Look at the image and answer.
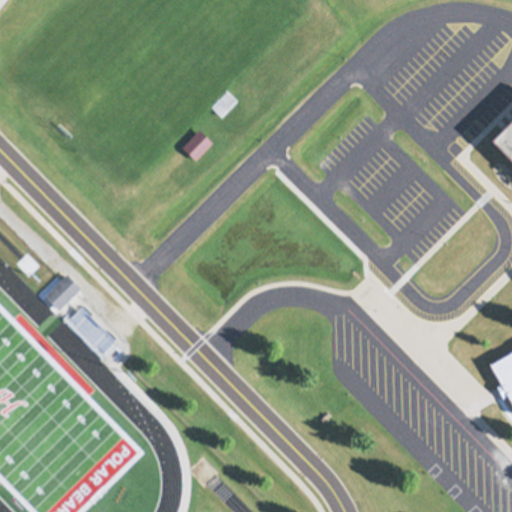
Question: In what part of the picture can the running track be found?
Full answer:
Look in the bottom left portion of the view to spot the running track.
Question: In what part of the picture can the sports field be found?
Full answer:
The sports field sits in the bottom left section of the image.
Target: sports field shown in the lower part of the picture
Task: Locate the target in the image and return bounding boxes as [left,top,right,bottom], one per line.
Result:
[0,286,160,512]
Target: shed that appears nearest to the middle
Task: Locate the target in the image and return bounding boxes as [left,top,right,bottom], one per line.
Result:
[184,131,213,162]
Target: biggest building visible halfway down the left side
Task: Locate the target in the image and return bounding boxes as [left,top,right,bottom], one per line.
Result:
[38,275,80,310]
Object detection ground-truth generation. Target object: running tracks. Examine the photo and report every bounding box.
[0,255,182,512]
